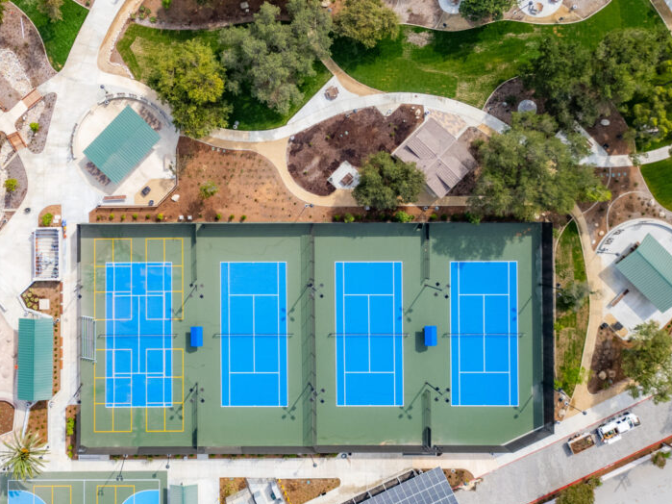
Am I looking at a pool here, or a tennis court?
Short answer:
tennis court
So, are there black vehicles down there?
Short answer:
No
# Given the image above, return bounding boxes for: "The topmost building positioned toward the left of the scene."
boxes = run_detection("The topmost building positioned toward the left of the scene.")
[83,104,160,184]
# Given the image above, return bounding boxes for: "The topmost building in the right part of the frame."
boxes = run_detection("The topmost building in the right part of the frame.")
[393,118,477,198]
